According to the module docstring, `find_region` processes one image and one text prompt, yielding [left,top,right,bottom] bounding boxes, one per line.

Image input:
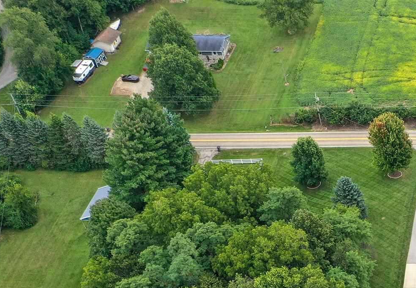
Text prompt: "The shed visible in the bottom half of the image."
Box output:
[80,183,118,228]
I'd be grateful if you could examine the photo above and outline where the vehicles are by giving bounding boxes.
[120,73,139,81]
[73,58,94,79]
